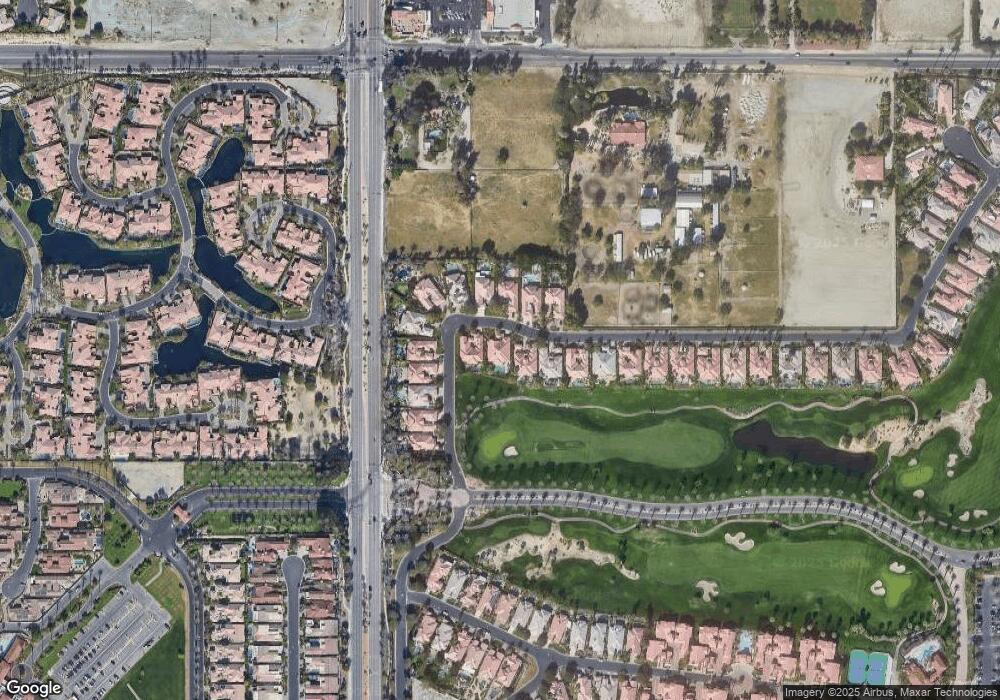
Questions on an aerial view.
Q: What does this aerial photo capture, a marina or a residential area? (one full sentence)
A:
The picture captures a residential area.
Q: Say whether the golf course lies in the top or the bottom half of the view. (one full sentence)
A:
The golf course is in the bottom half of the image.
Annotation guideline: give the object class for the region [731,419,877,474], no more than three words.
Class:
pond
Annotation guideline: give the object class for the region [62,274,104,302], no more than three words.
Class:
house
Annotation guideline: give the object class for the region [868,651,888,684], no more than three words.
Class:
tennis court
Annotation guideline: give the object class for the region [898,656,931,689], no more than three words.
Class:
building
